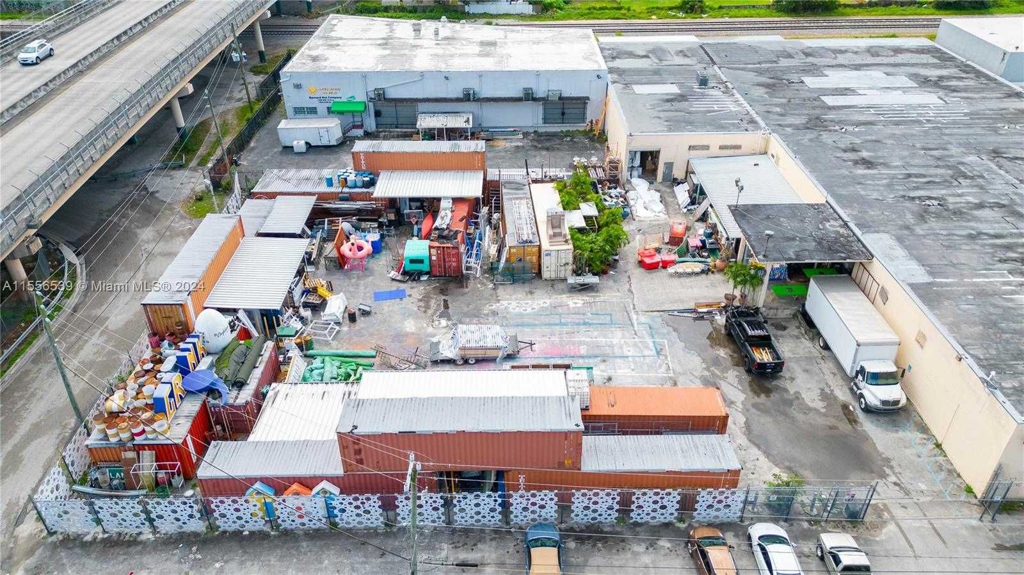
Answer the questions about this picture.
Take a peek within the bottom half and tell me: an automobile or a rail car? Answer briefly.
automobile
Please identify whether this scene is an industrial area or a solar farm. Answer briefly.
industrial area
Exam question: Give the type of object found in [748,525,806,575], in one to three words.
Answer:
car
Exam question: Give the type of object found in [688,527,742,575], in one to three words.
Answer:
car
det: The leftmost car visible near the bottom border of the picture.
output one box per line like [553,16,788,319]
[521,525,569,575]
